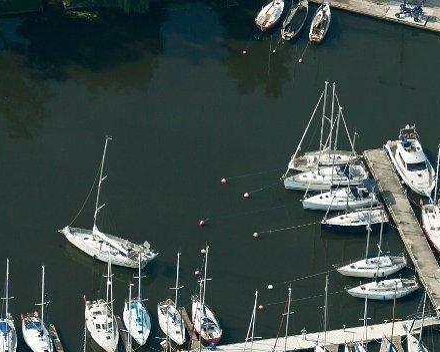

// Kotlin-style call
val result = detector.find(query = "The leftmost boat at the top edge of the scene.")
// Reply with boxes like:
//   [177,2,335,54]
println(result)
[252,0,285,34]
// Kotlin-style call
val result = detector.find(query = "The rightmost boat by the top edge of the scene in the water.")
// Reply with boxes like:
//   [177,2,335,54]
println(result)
[309,0,330,46]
